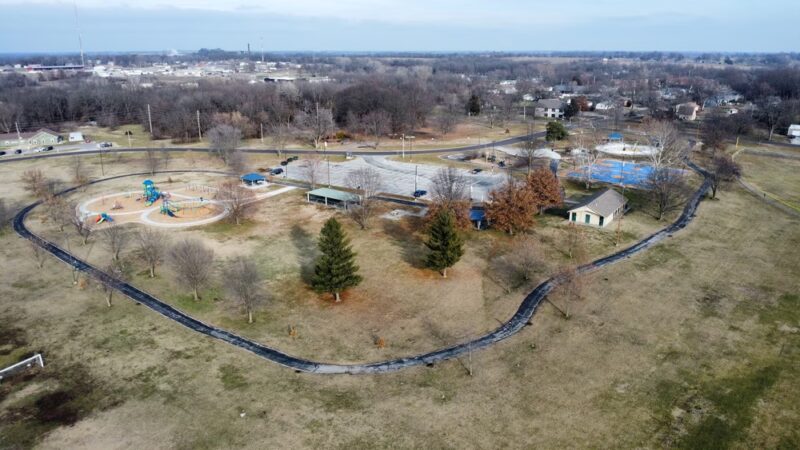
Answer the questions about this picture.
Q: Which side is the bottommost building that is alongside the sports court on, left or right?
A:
right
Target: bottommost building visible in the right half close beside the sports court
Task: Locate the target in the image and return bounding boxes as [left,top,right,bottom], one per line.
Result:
[562,188,639,230]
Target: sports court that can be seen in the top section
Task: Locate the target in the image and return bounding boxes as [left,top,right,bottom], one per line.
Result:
[566,160,691,190]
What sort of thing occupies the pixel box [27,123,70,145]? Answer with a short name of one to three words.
building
